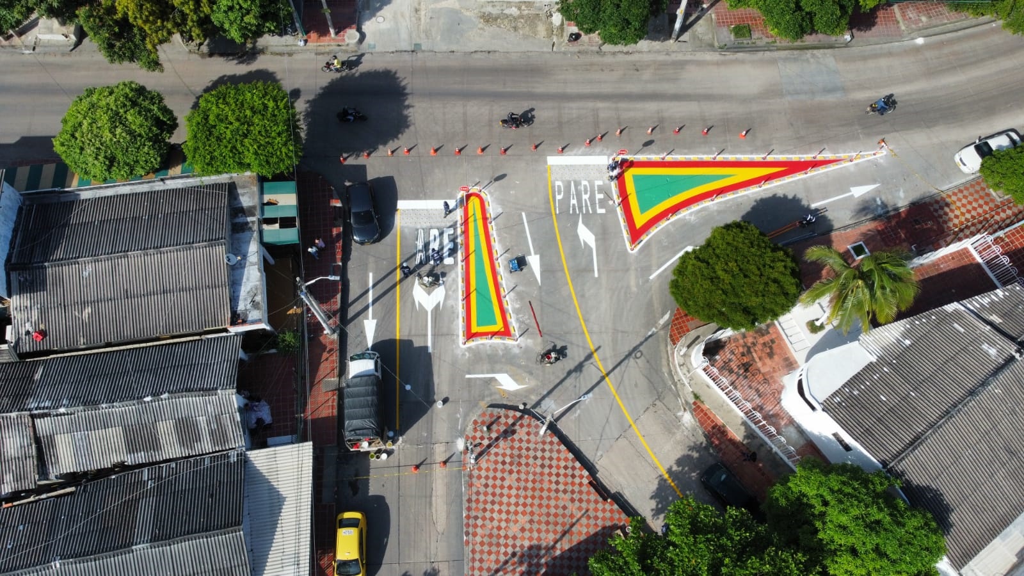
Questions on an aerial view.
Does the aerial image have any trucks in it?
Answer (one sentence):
Yes, there's a truck down there.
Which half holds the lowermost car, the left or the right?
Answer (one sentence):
The lowermost car is on the left side of the image.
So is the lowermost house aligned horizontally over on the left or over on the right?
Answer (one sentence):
It is on the left.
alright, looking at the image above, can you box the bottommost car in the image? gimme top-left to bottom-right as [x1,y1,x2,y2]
[331,509,368,576]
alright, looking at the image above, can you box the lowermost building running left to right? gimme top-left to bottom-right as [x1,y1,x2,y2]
[0,451,253,576]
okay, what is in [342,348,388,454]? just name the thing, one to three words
truck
